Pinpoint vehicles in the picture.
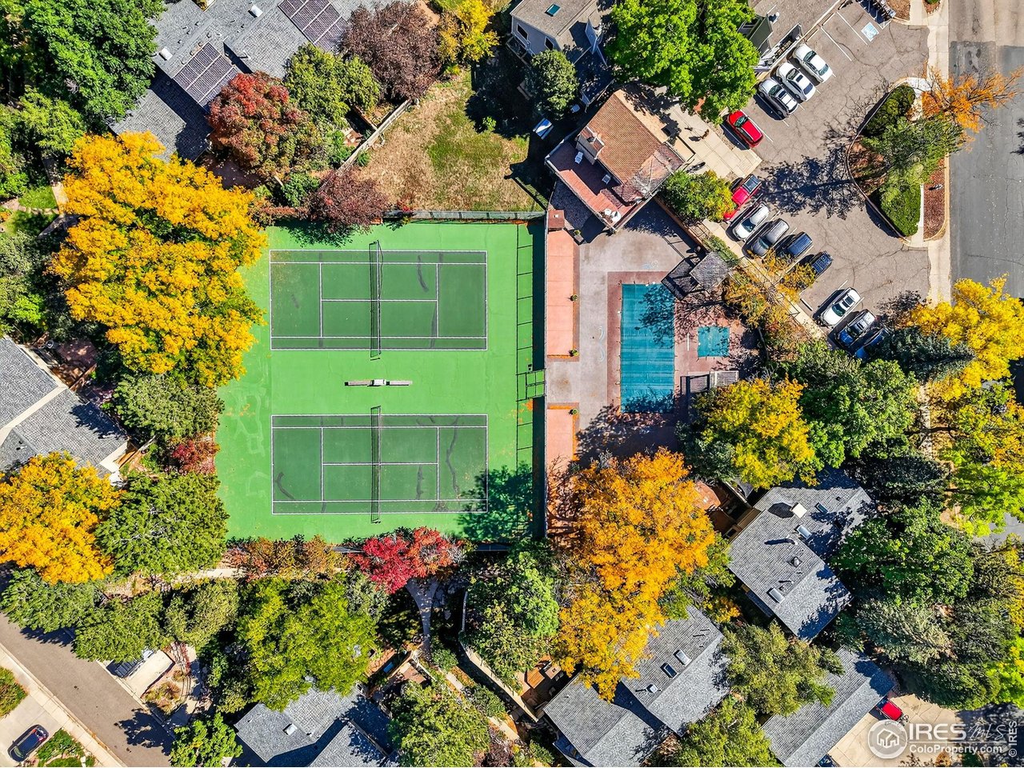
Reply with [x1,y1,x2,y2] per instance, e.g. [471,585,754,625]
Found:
[8,721,52,763]
[792,44,833,86]
[113,648,164,684]
[834,308,877,348]
[793,248,834,288]
[730,201,771,242]
[749,218,791,259]
[875,695,910,728]
[818,287,861,327]
[721,174,765,221]
[775,62,816,104]
[770,227,814,270]
[726,112,764,150]
[853,326,889,362]
[756,79,797,121]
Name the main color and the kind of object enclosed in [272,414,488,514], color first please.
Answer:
green tennis court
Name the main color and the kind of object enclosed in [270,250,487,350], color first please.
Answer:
green tennis court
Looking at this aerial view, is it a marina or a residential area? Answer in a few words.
residential area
